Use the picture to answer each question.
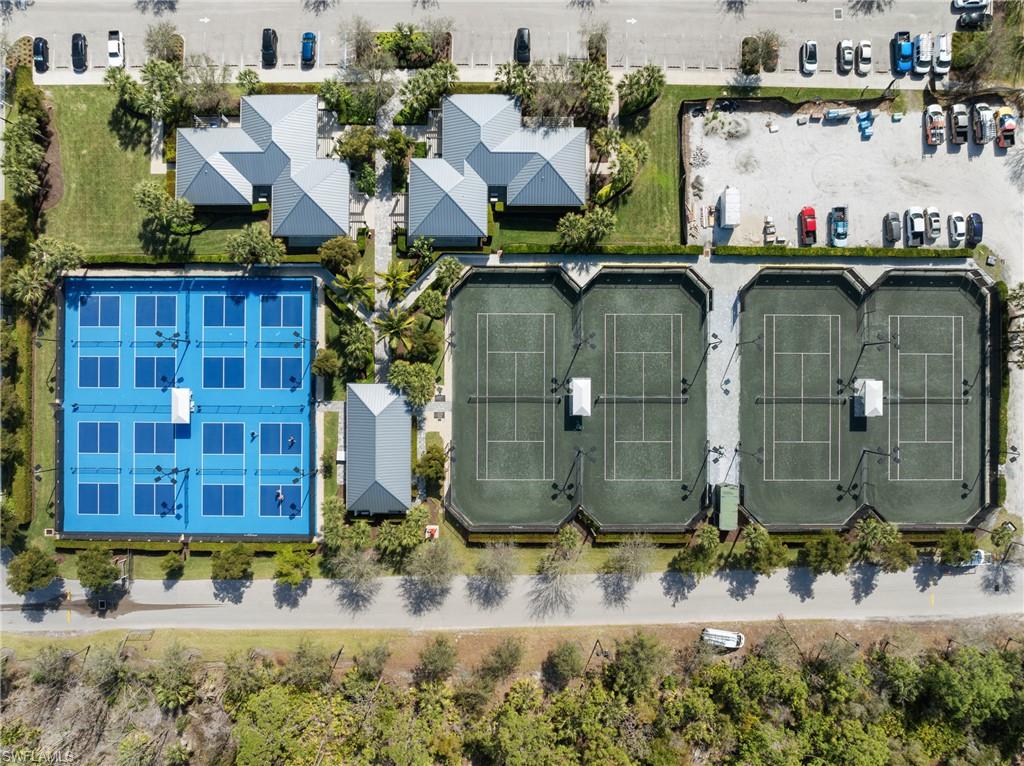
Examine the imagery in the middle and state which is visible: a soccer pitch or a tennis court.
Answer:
tennis court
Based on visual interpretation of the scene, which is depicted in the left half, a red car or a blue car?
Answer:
blue car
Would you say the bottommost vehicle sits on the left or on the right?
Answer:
right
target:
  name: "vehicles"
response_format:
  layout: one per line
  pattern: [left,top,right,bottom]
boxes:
[974,104,998,145]
[925,105,947,147]
[799,206,818,245]
[514,27,532,66]
[299,32,317,66]
[856,40,874,75]
[947,211,967,244]
[957,10,994,30]
[830,205,850,245]
[701,628,743,650]
[950,105,971,146]
[31,38,50,73]
[953,0,990,13]
[964,213,984,246]
[933,30,955,75]
[259,27,279,66]
[894,31,915,74]
[923,207,942,240]
[838,39,856,74]
[105,28,125,68]
[994,107,1016,149]
[905,207,926,246]
[67,34,89,72]
[801,40,819,74]
[882,210,902,245]
[913,30,935,75]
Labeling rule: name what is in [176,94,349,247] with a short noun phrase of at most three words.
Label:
building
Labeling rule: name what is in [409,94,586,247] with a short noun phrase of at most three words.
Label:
building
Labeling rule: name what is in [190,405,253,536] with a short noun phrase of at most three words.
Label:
sports court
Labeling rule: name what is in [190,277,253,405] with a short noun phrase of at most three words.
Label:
sports court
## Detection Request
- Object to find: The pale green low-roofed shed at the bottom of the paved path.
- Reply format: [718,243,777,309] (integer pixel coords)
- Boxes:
[715,483,737,530]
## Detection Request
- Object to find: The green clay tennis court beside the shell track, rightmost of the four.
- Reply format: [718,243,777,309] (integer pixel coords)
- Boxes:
[866,273,985,523]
